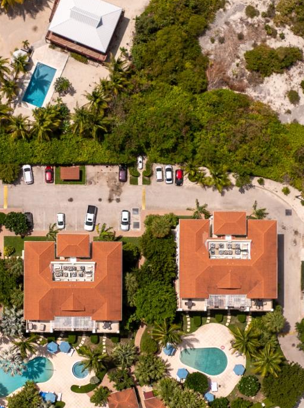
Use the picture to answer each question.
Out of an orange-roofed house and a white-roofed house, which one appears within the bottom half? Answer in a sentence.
There is an orange-roofed house within the bottom half.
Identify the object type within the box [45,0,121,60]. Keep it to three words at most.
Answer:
building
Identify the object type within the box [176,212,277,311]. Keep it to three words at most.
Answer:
house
